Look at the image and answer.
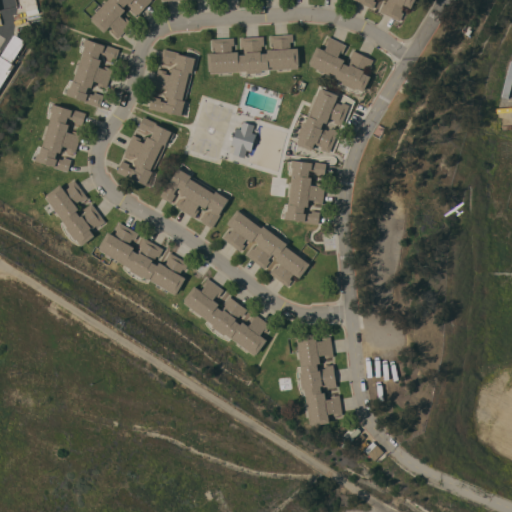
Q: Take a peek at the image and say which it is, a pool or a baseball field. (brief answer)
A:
pool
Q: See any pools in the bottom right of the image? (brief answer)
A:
No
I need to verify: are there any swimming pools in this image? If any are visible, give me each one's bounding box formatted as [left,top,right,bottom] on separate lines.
[238,83,283,120]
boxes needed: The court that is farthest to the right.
[250,118,286,171]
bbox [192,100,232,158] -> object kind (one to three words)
sports court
